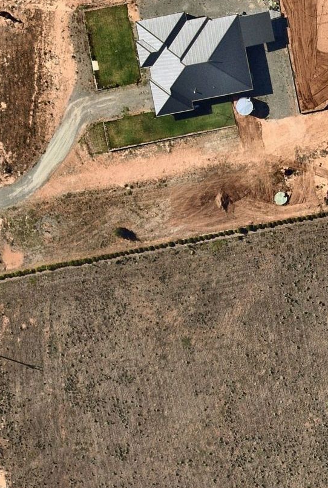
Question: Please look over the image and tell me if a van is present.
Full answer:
No, there is no van in the image.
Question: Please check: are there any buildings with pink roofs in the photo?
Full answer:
No, there's no building with a pink roof here.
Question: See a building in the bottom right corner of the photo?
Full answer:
No, there's no building to be seen in the bottom right corner of the photo.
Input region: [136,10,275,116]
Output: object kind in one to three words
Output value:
house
